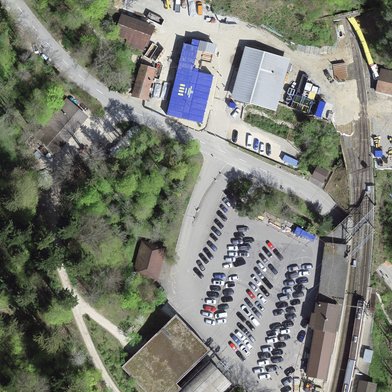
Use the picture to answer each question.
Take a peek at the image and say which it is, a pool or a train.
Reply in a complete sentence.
This aerial view contains a train.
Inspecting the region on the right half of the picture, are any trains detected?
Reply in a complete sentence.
Yes, on the right half of the picture there is a train.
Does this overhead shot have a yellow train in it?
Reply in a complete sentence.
Yes, there is a yellow train in the image.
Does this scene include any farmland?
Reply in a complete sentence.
No, farmland can't be seen anywhere here.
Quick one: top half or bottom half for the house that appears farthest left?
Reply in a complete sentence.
Seen from above, the house that appears farthest left lies in the top half of the view.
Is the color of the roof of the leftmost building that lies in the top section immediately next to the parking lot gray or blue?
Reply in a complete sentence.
The roof of the leftmost building that lies in the top section immediately next to the parking lot looks blue in the image.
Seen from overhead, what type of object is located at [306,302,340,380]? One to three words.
building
